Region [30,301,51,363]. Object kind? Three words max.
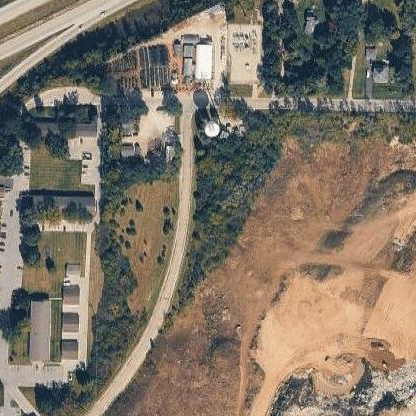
building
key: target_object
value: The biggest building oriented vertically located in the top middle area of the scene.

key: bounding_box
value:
[195,42,213,81]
